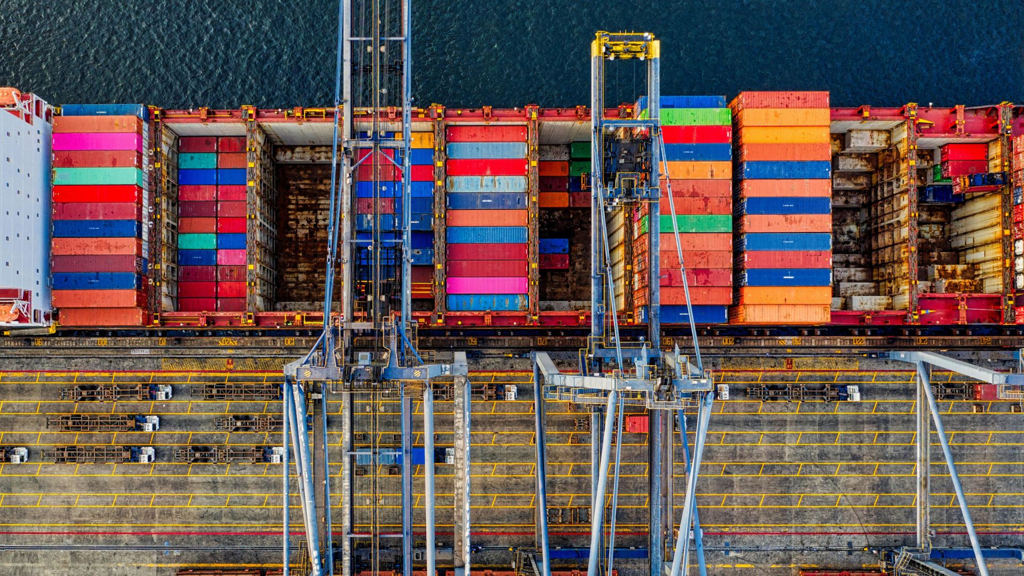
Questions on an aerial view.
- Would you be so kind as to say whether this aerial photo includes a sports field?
No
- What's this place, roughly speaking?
port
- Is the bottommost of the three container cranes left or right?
right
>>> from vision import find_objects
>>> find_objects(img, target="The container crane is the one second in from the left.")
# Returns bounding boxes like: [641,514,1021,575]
[504,28,718,576]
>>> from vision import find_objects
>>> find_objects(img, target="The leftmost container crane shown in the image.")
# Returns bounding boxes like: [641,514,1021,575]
[285,0,488,576]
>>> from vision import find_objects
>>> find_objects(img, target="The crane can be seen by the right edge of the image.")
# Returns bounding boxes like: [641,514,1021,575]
[852,349,1024,576]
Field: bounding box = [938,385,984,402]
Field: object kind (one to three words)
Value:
vehicle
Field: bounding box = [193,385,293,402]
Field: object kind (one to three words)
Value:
vehicle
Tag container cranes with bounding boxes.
[504,28,718,576]
[852,349,1024,576]
[285,0,488,576]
